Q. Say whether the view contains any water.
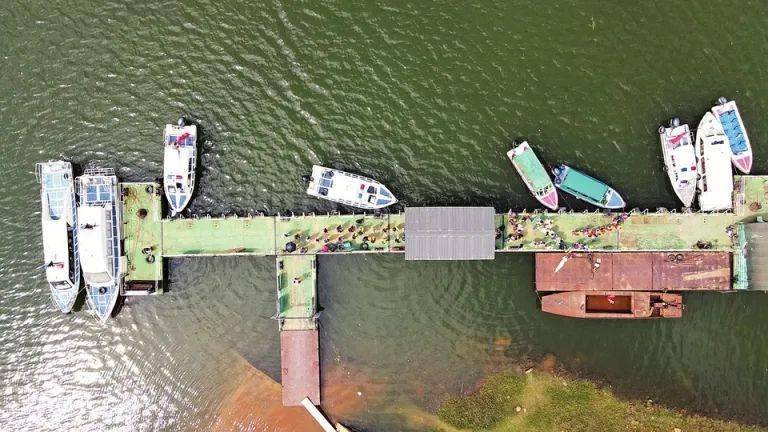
Yes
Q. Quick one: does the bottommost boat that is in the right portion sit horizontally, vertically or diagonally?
horizontally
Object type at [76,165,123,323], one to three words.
boat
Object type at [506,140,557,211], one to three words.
boat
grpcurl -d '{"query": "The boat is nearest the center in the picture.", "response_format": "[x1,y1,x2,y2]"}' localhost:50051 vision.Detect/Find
[304,166,398,208]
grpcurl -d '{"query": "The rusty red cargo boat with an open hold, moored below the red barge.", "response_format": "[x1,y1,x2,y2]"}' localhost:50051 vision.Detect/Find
[541,291,685,319]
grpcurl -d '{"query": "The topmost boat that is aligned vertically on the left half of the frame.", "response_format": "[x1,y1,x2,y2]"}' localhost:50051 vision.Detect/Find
[164,118,196,214]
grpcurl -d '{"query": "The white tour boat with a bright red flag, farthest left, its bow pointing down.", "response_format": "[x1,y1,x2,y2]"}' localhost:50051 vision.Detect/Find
[37,155,83,314]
